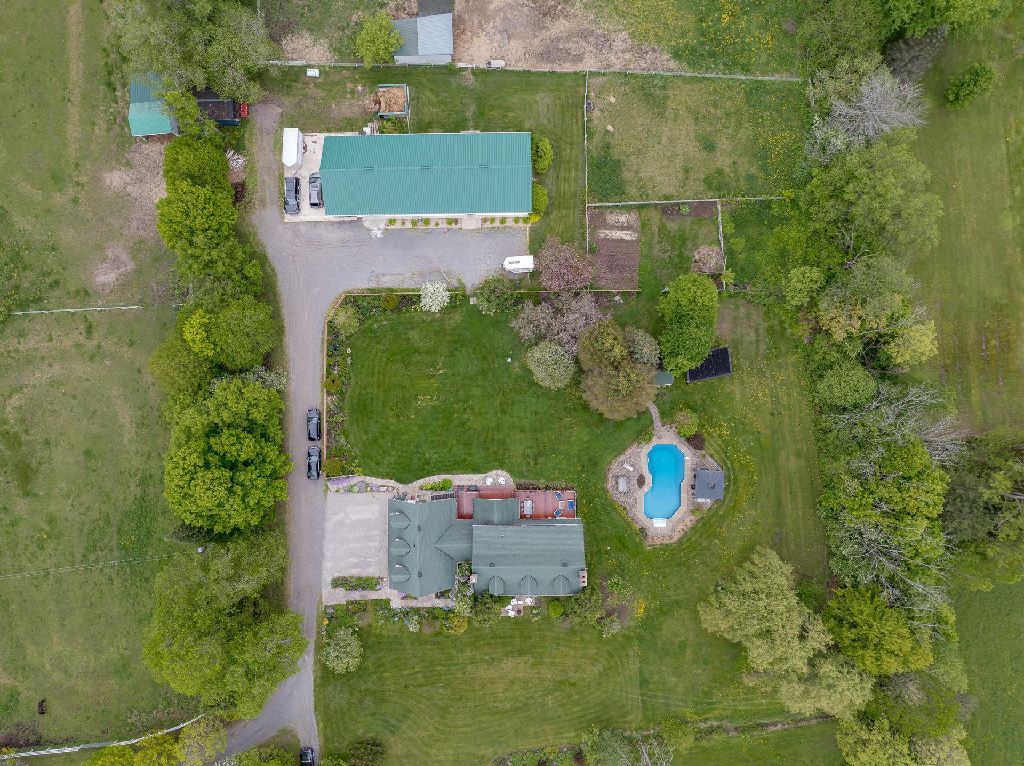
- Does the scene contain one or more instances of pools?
Yes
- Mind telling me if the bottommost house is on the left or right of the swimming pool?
on its left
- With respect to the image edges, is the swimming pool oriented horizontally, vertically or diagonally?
vertically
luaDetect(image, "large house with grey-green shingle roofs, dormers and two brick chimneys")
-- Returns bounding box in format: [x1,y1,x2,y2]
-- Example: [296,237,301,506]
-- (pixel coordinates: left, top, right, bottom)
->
[387,498,592,597]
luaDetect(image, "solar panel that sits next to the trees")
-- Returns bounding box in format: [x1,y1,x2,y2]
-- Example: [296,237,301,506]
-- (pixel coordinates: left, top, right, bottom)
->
[685,347,732,382]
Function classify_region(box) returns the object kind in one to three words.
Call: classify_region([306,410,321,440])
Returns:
car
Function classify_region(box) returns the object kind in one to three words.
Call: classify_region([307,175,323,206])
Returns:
car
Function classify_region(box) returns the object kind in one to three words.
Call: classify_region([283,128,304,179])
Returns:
trailer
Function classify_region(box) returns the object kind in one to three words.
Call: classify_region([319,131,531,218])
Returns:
barn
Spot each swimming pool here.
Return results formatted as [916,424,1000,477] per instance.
[643,444,688,527]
